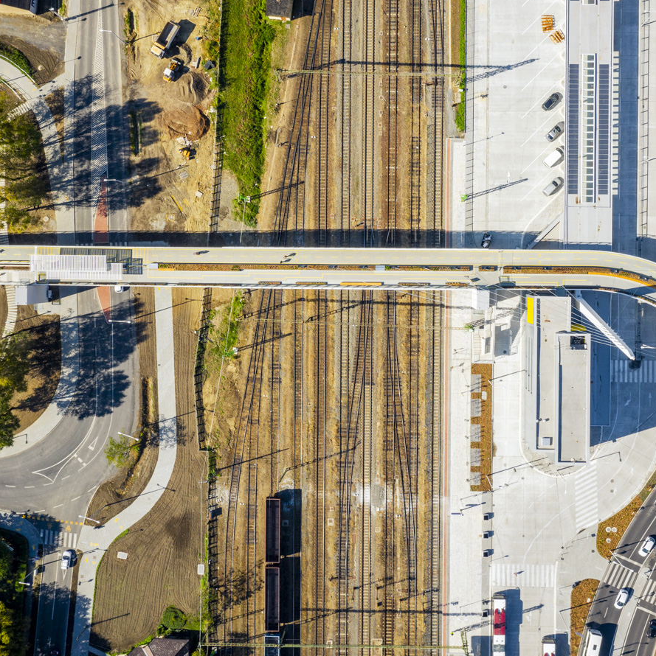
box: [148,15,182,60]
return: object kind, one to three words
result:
truck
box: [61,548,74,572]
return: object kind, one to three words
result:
vehicle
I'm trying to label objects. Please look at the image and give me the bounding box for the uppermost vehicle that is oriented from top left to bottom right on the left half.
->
[178,146,198,165]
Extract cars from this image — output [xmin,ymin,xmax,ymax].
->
[542,145,565,171]
[647,618,656,641]
[613,586,631,611]
[543,175,565,199]
[114,288,125,297]
[61,548,74,572]
[542,90,563,113]
[480,229,493,249]
[544,120,565,144]
[639,533,656,558]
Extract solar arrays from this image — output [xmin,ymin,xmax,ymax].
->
[600,63,610,194]
[571,63,580,194]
